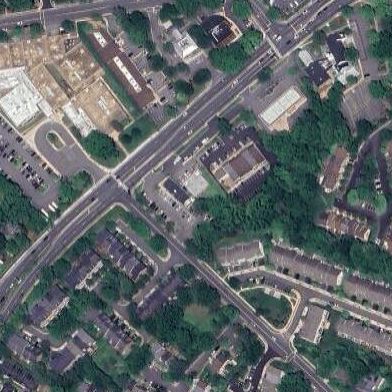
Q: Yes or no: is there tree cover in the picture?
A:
Yes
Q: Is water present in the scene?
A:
No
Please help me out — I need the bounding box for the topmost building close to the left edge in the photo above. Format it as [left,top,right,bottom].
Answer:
[0,36,136,137]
